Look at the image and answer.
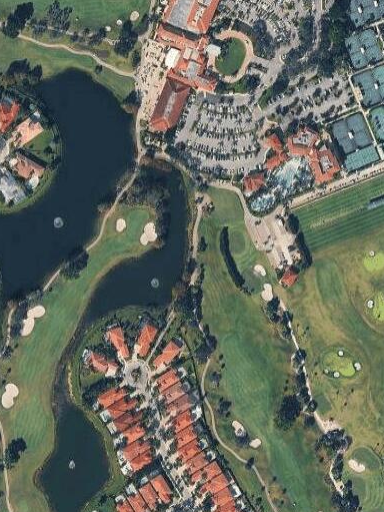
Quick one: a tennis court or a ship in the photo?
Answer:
tennis court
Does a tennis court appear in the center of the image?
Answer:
No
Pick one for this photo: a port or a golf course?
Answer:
golf course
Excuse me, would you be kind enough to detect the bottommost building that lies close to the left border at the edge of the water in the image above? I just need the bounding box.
[0,171,26,204]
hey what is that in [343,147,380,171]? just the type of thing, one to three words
tennis court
